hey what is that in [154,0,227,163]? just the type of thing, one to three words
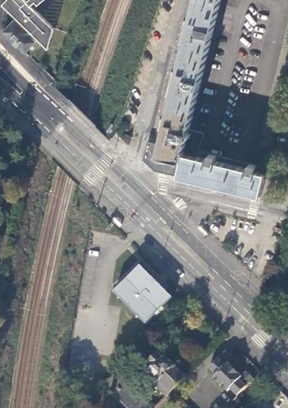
building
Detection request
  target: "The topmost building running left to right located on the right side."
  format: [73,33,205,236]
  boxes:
[176,154,268,202]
